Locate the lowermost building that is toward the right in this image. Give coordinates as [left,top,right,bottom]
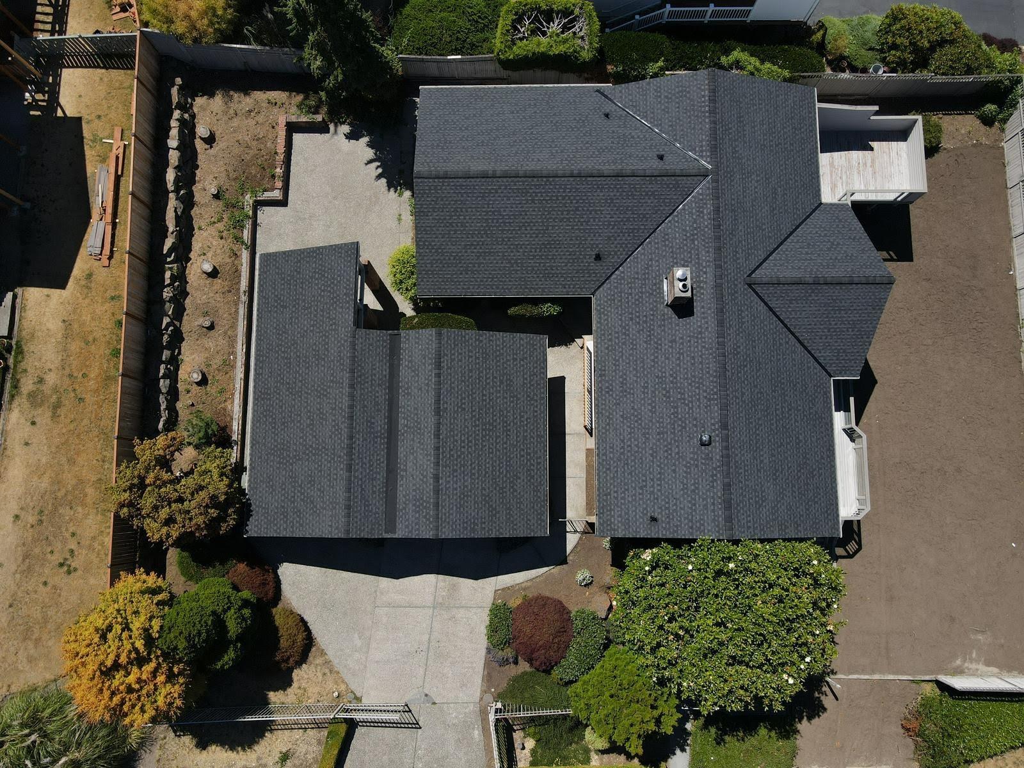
[411,63,895,541]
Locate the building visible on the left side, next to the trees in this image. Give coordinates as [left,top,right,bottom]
[241,242,550,540]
